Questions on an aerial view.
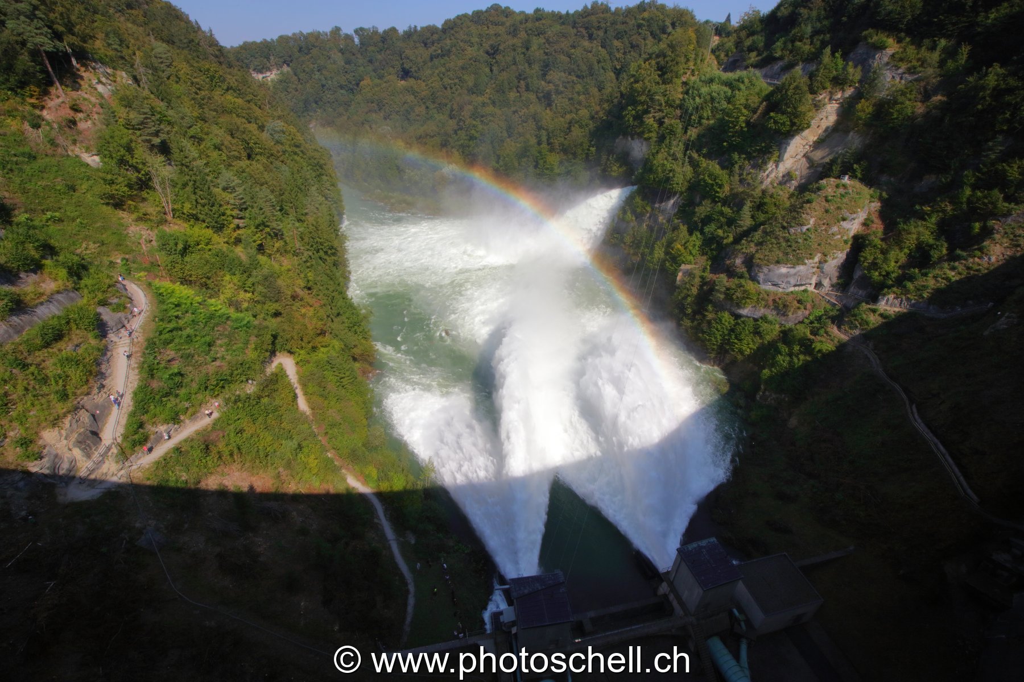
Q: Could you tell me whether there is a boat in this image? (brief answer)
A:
No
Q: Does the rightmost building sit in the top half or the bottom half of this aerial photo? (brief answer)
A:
bottom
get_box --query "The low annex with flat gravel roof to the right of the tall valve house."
[728,552,824,650]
